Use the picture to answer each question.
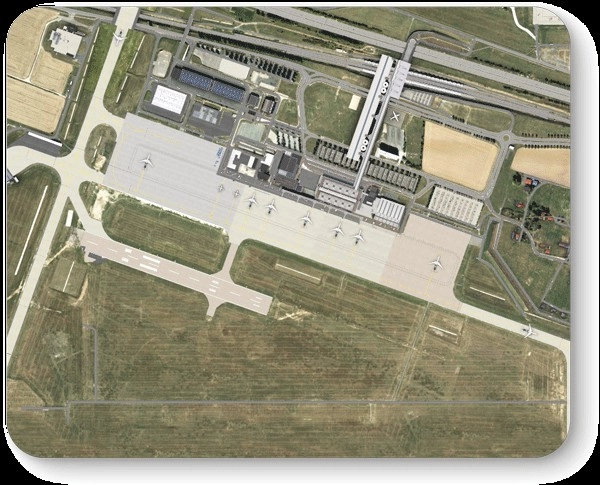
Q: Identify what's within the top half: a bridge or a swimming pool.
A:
bridge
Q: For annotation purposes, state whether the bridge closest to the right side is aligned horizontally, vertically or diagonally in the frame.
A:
horizontally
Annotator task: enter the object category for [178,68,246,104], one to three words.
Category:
hangar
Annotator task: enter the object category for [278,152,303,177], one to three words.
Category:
building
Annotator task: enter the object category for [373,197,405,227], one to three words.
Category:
building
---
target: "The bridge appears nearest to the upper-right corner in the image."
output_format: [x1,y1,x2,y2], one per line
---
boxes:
[402,30,476,65]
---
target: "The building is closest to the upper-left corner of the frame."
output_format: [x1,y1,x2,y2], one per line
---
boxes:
[49,28,81,57]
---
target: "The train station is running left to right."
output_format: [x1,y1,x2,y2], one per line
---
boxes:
[344,57,478,100]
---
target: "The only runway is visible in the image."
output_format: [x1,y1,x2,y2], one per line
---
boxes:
[77,230,272,317]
